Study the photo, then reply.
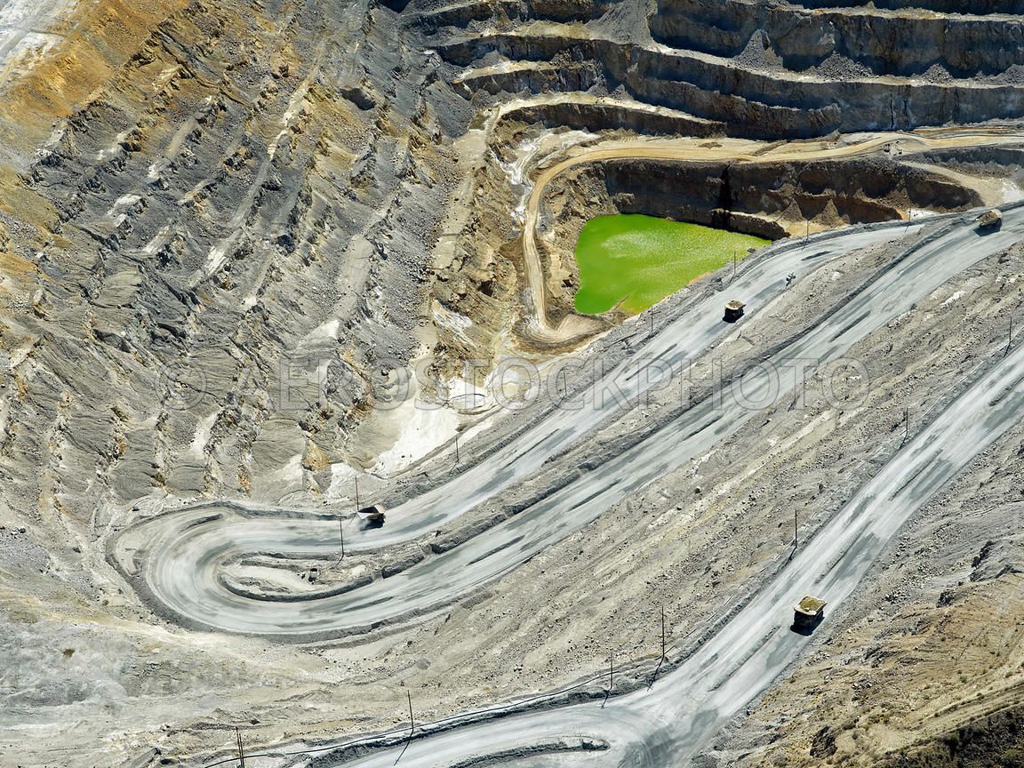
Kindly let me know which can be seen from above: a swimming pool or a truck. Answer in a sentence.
It is a truck that can be seen here.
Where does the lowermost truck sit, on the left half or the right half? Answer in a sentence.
The lowermost truck sits on the right side.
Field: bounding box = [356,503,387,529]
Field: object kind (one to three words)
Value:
truck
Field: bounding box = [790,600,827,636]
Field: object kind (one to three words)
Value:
truck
